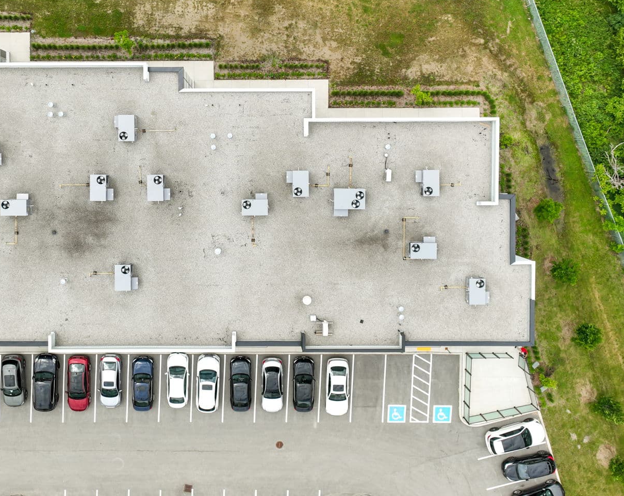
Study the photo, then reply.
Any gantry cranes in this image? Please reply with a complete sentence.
No, no gantry crane is visible in the scene.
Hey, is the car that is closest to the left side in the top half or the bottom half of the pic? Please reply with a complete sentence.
It is in the bottom half that the car that is closest to the left side appears.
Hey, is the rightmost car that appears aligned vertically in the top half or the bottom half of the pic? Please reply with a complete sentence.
The bottom half of the photo is where the rightmost car that appears aligned vertically is.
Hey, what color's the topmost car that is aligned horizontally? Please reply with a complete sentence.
In this view, the topmost car that is aligned horizontally is white.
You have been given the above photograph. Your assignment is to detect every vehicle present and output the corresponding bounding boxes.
[0,355,28,407]
[502,450,557,484]
[32,354,59,412]
[260,358,285,411]
[228,356,254,412]
[65,356,92,411]
[165,353,191,409]
[511,482,565,496]
[97,355,123,407]
[486,422,544,455]
[326,359,351,415]
[129,356,155,411]
[292,356,318,412]
[195,354,221,412]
